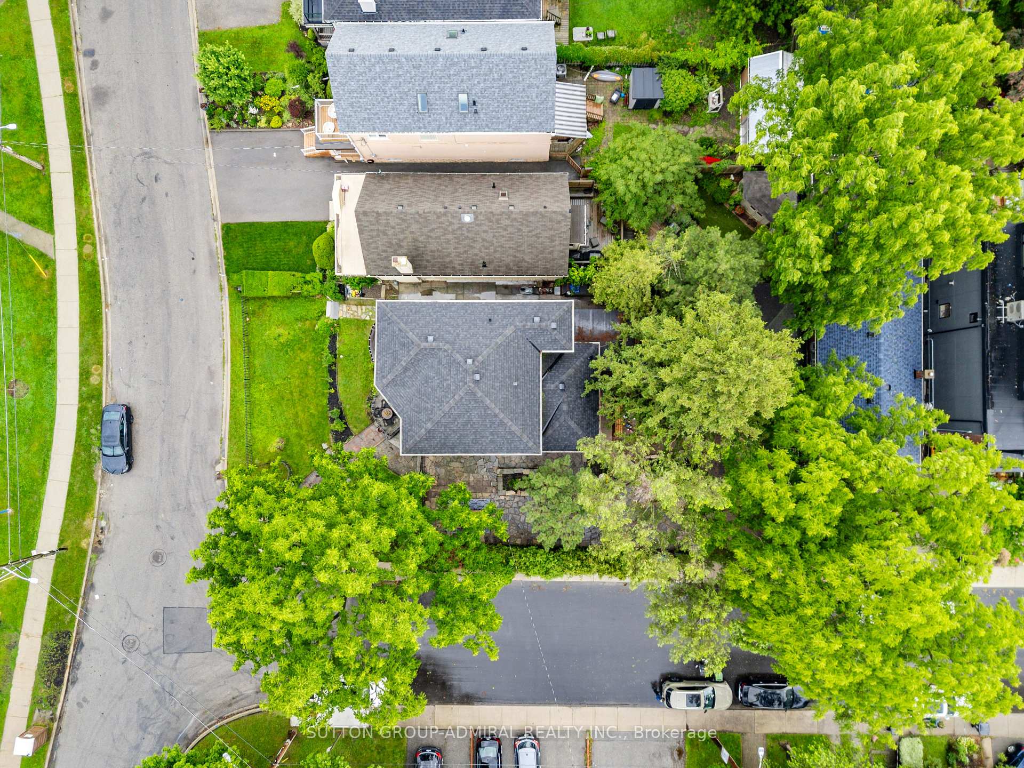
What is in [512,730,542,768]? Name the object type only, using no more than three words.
car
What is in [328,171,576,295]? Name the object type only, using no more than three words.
house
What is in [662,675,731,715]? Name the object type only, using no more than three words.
car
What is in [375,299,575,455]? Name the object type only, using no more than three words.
house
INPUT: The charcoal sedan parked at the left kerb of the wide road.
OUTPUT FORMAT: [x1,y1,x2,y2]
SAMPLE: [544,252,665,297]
[97,402,137,475]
